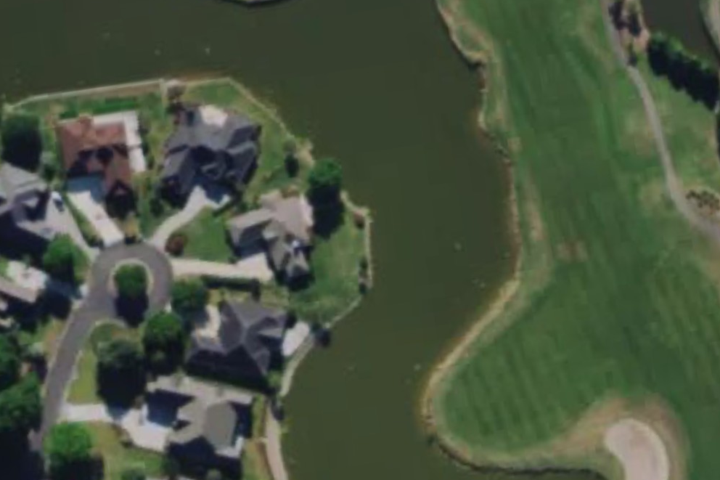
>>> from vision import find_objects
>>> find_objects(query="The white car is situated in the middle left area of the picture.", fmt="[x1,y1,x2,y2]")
[51,191,63,208]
